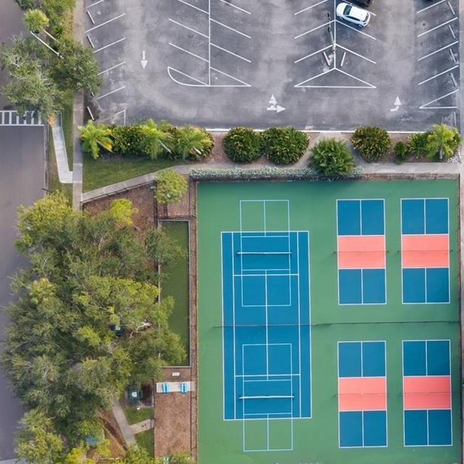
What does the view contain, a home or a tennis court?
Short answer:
tennis court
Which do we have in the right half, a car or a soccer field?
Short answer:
car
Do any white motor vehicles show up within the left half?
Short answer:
No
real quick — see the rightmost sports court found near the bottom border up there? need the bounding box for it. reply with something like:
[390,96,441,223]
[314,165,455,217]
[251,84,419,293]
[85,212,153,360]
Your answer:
[400,340,454,447]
